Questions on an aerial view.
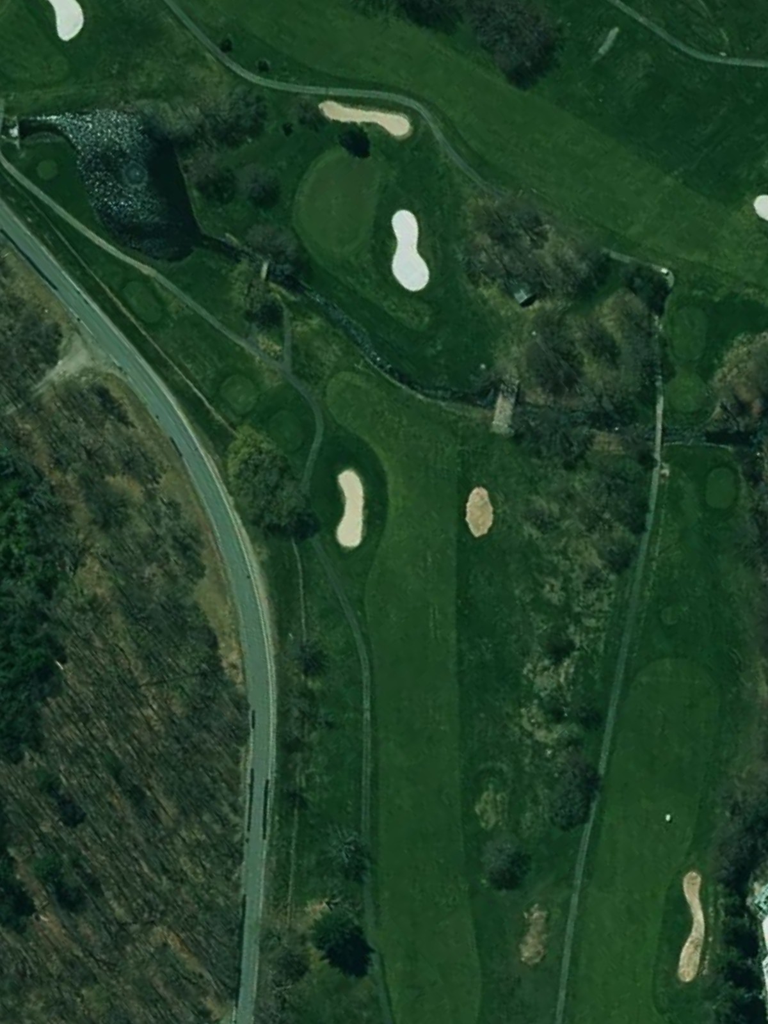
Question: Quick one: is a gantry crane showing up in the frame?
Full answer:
No, there isn't any gantry crane down there.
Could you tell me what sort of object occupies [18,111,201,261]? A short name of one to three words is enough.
pond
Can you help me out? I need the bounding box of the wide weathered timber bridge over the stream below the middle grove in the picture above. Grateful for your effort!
[494,385,517,429]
